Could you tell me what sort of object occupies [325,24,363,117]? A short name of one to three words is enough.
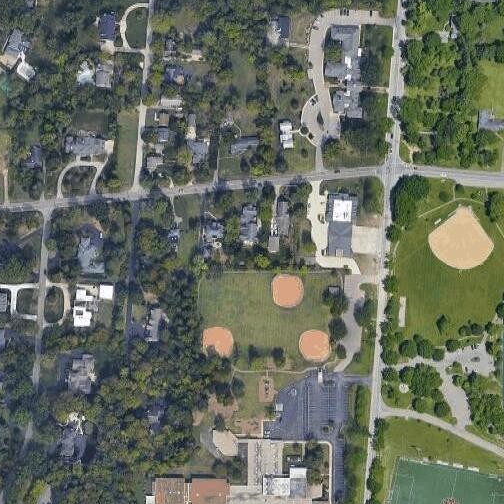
house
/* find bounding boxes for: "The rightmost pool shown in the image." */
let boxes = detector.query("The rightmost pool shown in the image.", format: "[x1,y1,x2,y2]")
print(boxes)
[77,64,95,83]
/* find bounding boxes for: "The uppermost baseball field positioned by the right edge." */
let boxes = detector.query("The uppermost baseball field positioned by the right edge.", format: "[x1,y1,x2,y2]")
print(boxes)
[429,204,495,270]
